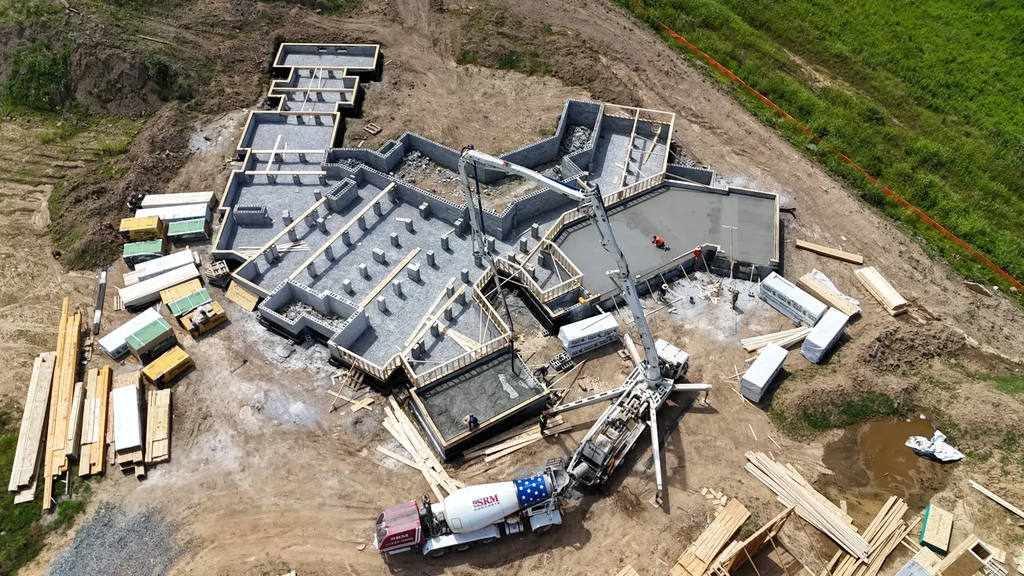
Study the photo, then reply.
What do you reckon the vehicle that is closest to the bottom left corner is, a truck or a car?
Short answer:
truck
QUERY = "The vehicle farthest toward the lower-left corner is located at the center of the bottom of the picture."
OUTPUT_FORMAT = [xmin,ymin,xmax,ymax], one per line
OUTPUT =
[370,452,585,565]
